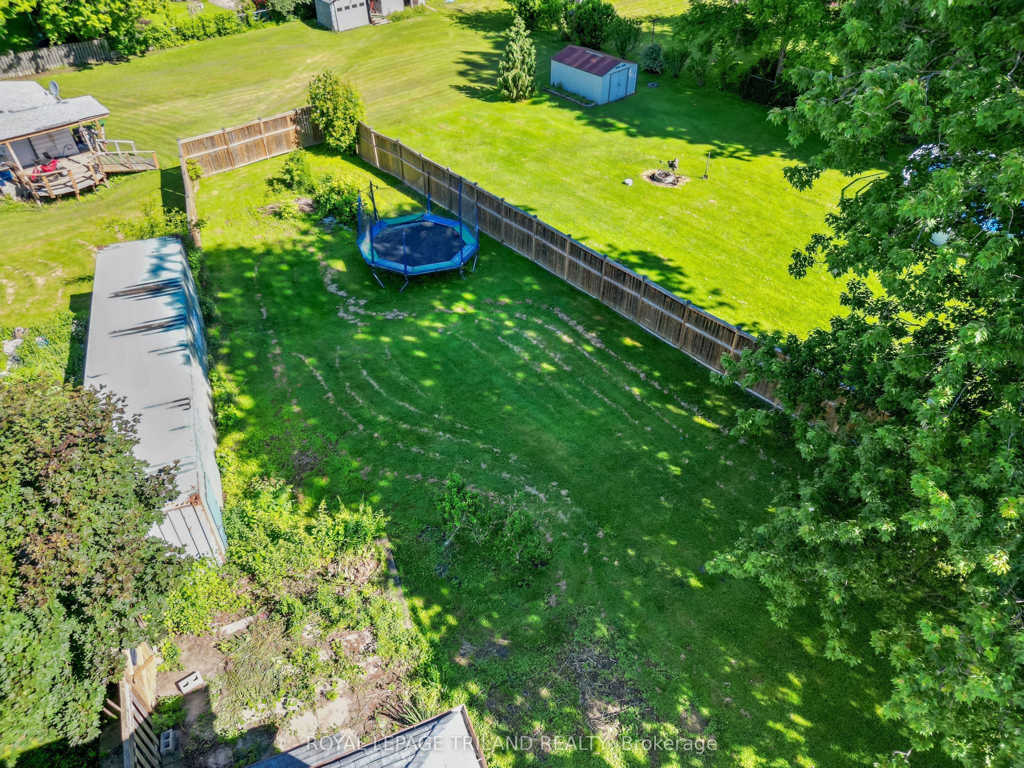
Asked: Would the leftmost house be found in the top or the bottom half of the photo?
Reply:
top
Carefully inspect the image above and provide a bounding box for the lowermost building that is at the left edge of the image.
[0,78,162,208]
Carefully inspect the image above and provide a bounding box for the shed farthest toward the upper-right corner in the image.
[545,42,643,105]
